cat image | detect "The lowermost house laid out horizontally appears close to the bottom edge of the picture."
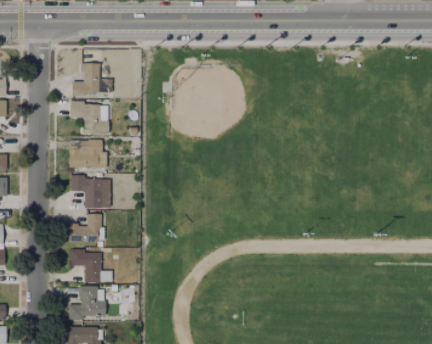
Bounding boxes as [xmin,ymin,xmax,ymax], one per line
[68,328,104,344]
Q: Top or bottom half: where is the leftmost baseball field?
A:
top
